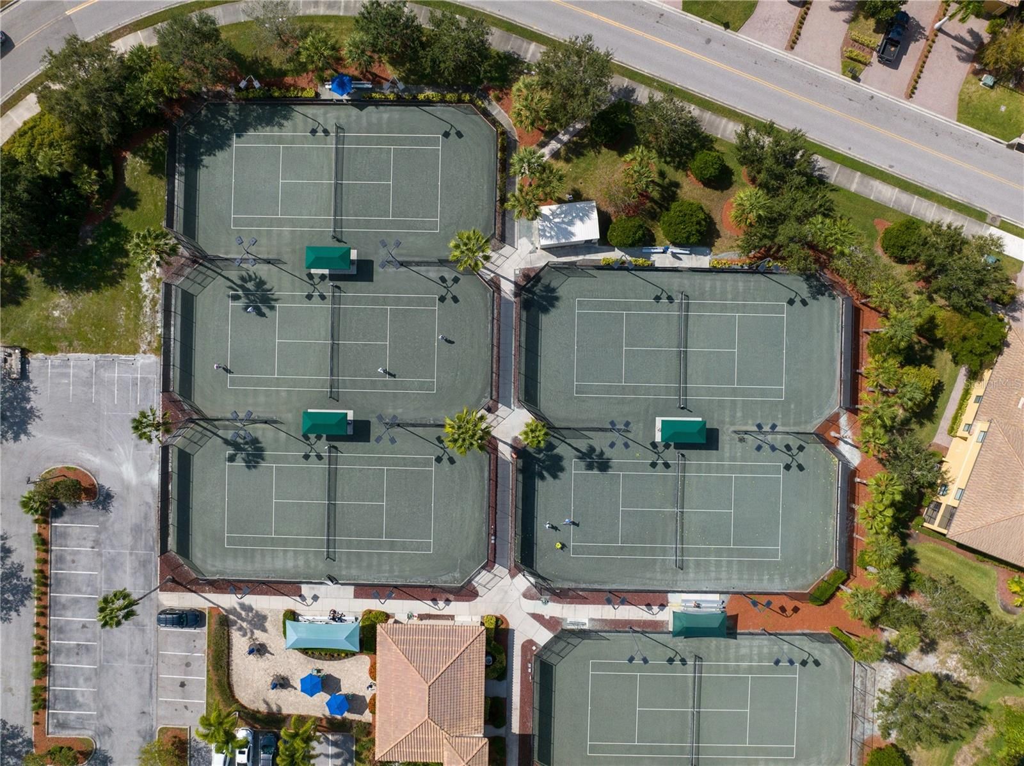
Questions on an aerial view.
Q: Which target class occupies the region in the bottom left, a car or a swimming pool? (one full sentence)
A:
It is a car that can be seen in the bottom left.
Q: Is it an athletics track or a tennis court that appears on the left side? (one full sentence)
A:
Visible on the left side is a tennis court.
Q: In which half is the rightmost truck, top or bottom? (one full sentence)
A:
The rightmost truck sits in the top half of the picture.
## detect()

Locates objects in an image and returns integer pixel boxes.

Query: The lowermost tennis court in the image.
[534,631,853,766]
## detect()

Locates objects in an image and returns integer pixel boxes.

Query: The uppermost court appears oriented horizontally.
[175,103,494,261]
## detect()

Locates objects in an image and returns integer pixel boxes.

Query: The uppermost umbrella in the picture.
[331,73,352,97]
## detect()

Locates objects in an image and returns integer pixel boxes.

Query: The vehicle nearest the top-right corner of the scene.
[875,10,913,67]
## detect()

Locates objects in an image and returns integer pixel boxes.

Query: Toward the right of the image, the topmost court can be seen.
[520,264,839,433]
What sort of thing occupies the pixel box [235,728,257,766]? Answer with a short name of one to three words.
car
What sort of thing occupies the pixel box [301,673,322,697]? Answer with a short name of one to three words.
umbrella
